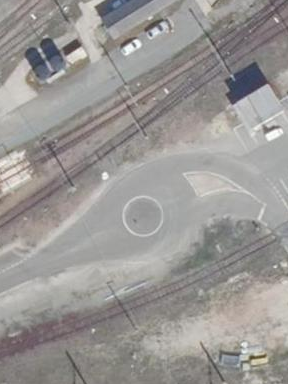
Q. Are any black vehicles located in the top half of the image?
No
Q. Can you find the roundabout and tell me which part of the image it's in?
center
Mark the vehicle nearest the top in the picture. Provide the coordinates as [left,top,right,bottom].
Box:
[146,20,171,39]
